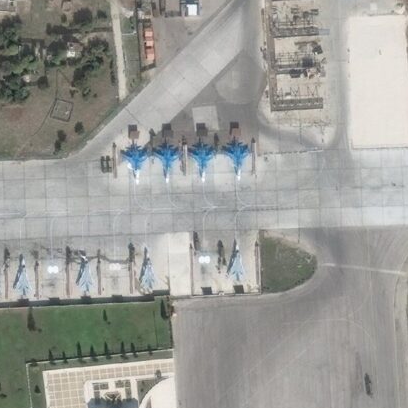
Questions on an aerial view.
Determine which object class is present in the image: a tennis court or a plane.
plane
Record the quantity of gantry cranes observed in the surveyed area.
0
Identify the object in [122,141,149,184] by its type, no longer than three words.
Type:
airplane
